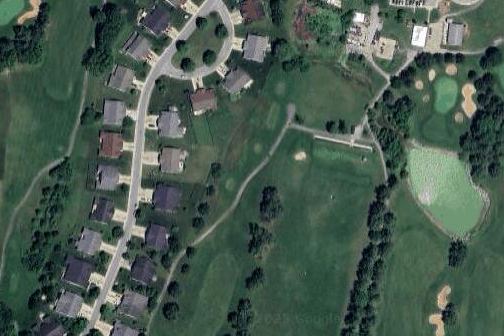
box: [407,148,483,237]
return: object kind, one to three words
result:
pond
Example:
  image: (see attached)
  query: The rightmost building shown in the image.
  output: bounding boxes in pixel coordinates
[442,21,464,46]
